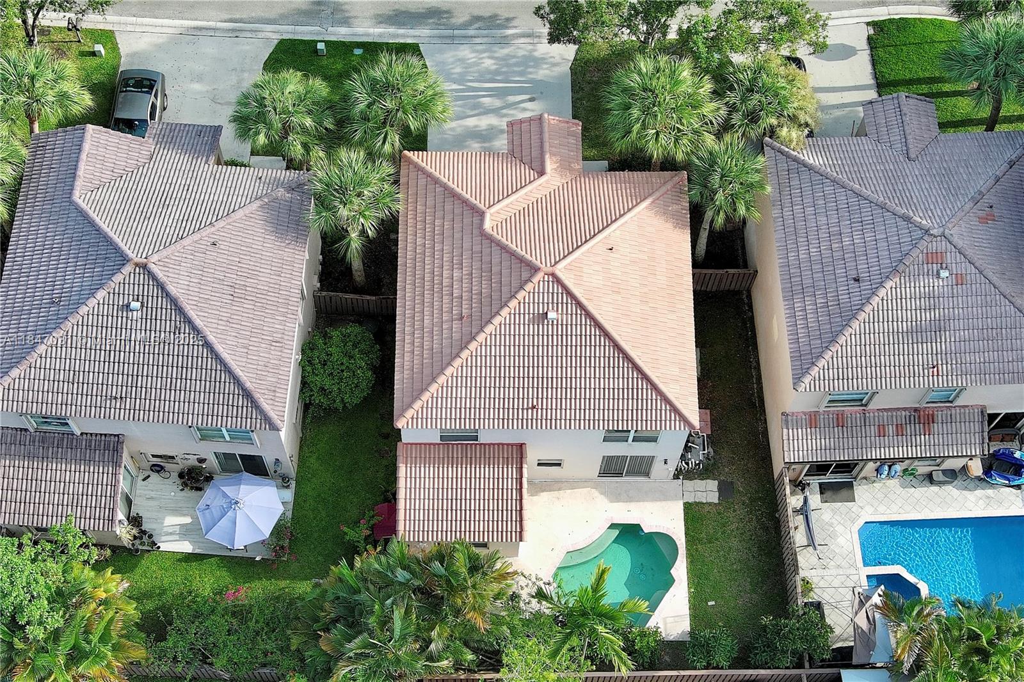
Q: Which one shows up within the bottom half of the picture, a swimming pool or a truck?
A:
swimming pool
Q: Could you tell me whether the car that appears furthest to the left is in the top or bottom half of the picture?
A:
top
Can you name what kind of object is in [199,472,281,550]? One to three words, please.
umbrella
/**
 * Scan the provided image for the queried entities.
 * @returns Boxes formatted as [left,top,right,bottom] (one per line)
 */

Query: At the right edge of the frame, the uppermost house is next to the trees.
[746,91,1024,489]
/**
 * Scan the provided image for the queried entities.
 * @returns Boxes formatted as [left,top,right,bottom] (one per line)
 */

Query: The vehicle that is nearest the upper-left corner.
[114,70,166,136]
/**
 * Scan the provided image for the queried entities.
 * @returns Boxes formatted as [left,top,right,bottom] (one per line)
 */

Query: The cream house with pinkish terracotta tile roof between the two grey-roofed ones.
[393,110,702,556]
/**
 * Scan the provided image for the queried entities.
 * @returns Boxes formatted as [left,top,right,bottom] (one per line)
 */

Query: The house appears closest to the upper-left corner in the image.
[0,122,322,543]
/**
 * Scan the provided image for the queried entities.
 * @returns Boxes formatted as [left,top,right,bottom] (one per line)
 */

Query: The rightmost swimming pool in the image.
[851,508,1024,652]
